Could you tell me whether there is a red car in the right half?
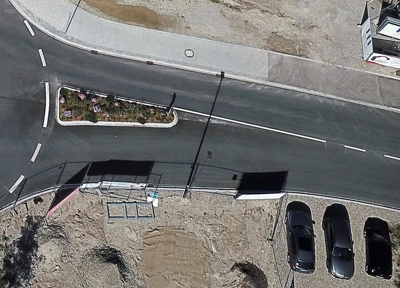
No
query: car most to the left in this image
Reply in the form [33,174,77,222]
[282,206,329,279]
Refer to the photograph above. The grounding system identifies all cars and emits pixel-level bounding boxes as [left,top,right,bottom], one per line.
[323,206,365,283]
[361,215,400,285]
[282,206,329,279]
